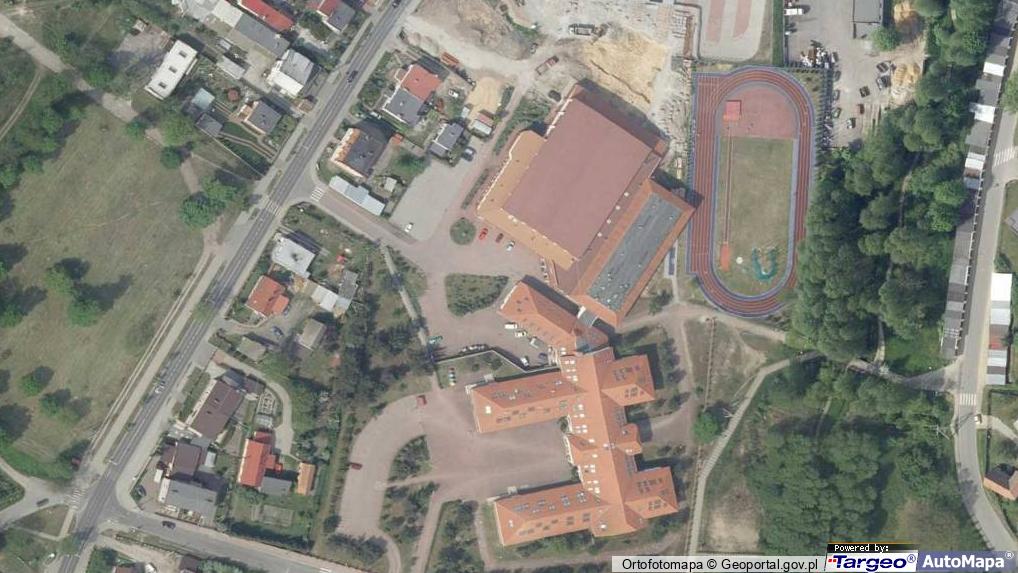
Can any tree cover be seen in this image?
Yes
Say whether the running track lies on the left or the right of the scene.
right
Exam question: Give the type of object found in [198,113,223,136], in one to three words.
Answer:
shed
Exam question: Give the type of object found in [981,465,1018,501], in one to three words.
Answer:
house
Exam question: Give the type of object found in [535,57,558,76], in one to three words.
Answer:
vehicle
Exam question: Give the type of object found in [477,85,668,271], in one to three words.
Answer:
building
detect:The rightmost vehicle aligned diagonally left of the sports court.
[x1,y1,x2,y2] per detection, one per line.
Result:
[588,24,606,40]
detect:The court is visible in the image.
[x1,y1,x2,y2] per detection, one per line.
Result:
[671,0,764,61]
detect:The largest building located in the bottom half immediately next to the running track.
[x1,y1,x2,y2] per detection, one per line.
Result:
[462,281,678,545]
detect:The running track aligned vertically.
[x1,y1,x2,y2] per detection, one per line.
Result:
[686,66,814,316]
